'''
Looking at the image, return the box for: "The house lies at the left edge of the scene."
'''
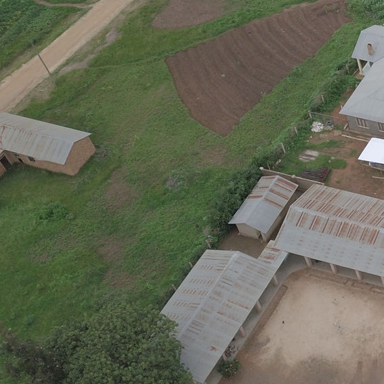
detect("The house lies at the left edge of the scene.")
[0,113,102,180]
